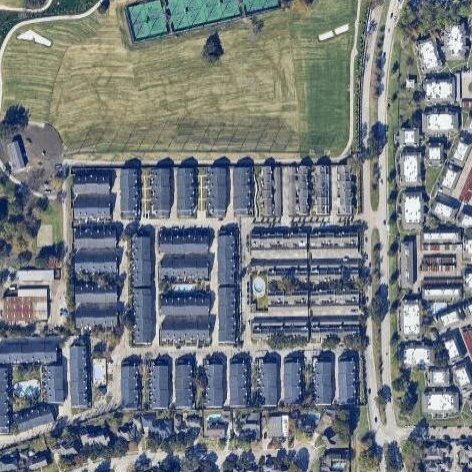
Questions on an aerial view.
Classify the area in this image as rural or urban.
urban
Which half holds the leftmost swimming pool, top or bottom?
bottom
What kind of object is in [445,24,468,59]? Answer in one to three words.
building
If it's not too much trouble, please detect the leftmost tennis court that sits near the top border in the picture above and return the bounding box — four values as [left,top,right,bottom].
[128,0,169,40]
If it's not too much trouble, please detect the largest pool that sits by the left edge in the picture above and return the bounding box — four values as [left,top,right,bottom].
[15,381,39,402]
